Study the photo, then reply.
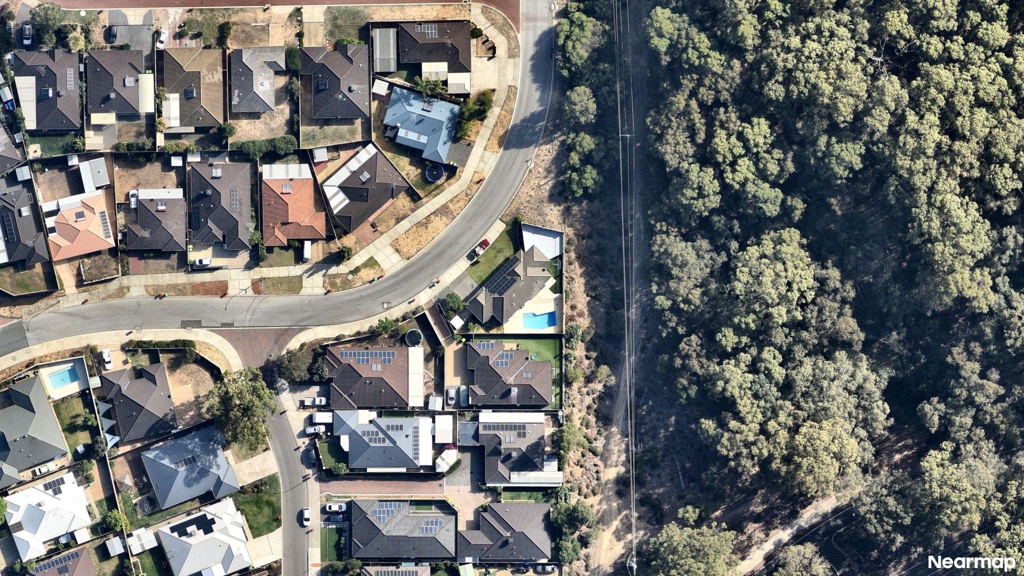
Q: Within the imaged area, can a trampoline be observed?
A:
Yes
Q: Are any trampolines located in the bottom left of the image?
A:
Yes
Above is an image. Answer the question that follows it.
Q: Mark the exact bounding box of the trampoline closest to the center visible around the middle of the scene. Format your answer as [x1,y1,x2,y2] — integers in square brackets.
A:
[405,330,422,347]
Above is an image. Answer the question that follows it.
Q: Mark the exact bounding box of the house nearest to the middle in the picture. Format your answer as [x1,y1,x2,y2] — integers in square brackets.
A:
[464,245,555,325]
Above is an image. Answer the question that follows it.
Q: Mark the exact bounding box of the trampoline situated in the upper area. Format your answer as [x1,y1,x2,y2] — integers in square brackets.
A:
[426,164,444,182]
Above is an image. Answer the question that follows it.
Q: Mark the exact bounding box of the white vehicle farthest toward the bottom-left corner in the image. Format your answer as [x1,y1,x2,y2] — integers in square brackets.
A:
[34,462,56,476]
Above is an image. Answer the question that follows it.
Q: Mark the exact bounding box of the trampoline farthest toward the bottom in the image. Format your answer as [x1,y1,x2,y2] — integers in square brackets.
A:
[137,496,155,514]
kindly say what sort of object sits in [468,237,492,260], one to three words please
truck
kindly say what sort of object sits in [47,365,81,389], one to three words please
swimming pool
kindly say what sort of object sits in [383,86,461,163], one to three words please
house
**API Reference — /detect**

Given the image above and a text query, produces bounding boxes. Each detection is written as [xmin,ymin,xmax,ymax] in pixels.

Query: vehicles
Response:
[304,396,325,406]
[307,446,317,467]
[329,514,343,522]
[128,189,138,209]
[194,258,212,266]
[34,462,56,476]
[156,29,168,48]
[468,237,492,260]
[447,387,456,405]
[459,385,469,406]
[101,348,112,370]
[302,507,310,527]
[303,240,311,262]
[305,424,325,434]
[108,25,118,43]
[23,25,32,45]
[326,503,347,511]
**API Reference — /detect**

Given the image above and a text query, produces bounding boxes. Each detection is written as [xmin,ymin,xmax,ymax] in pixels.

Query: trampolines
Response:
[426,164,444,182]
[137,496,155,514]
[405,330,422,347]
